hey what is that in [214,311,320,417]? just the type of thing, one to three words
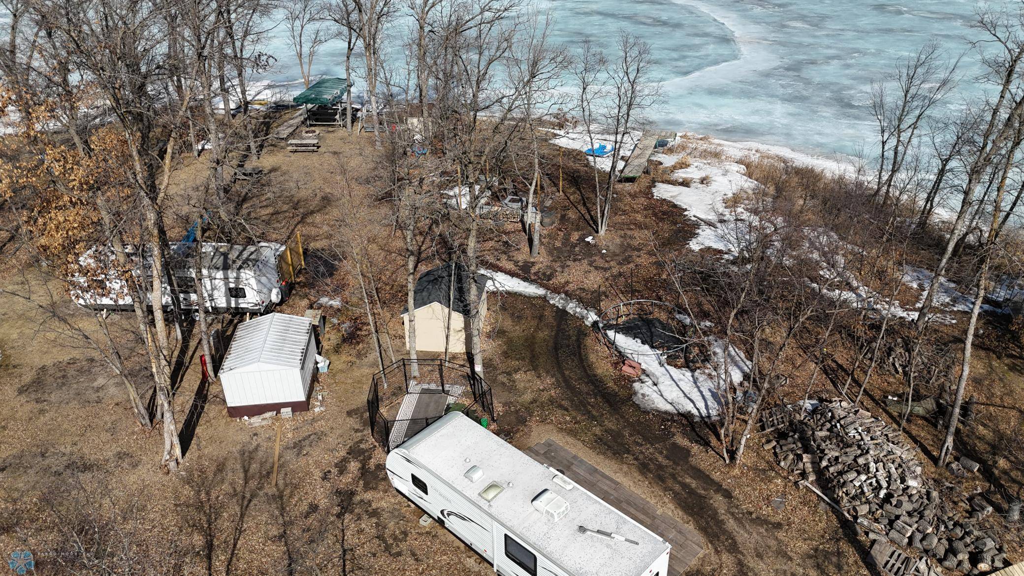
shed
